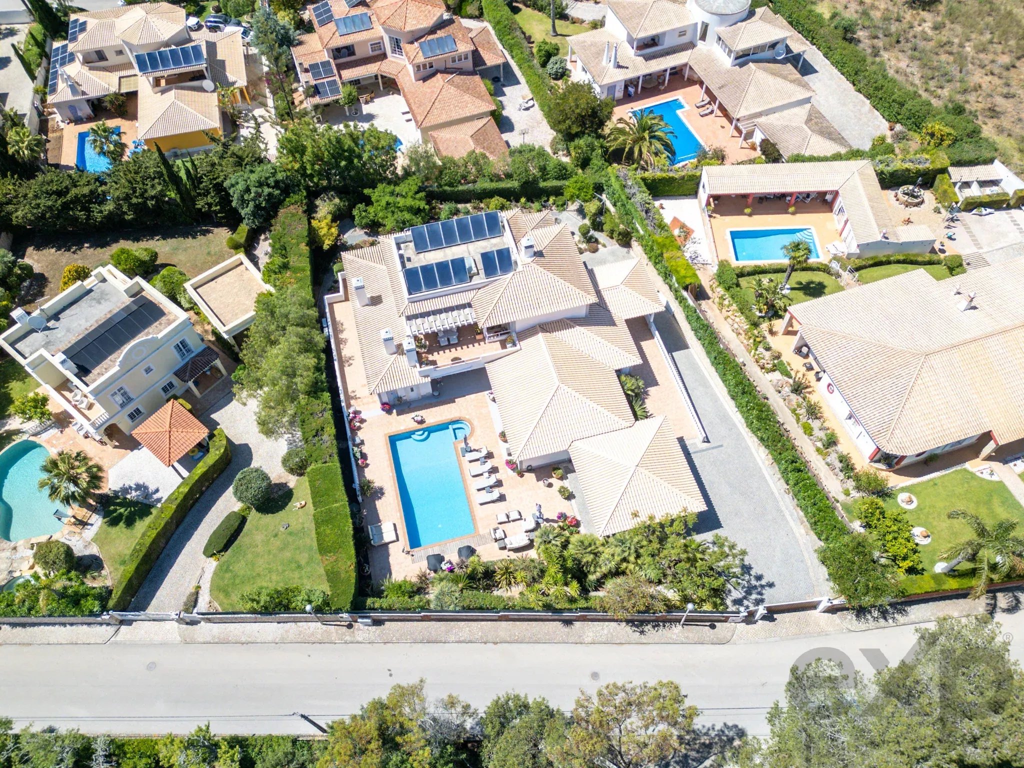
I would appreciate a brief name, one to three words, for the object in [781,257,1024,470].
house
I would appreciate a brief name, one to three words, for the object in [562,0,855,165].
house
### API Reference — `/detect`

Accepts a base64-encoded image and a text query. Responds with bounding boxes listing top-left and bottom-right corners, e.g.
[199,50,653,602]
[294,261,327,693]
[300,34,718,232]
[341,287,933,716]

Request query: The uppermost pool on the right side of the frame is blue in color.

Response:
[653,95,714,166]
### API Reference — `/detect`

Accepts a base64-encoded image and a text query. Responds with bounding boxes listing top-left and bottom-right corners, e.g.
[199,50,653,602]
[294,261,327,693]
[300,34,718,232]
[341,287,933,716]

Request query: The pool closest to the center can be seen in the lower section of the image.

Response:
[384,414,481,555]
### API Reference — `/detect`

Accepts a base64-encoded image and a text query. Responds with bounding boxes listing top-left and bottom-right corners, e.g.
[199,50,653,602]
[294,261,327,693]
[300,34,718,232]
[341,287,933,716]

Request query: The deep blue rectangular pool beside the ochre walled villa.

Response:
[67,124,123,169]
